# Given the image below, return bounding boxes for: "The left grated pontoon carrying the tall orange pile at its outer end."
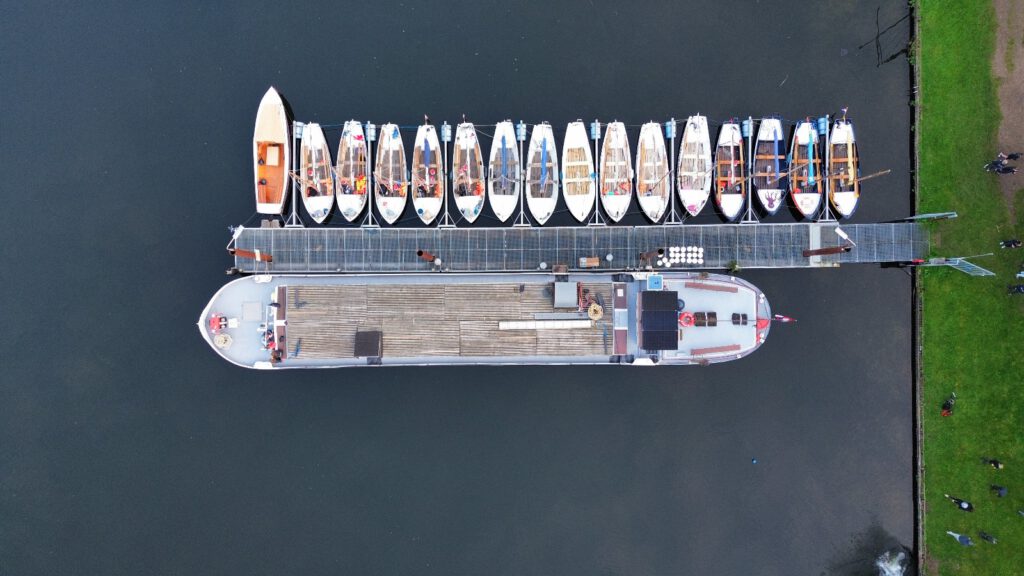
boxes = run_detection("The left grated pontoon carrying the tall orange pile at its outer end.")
[234,227,440,273]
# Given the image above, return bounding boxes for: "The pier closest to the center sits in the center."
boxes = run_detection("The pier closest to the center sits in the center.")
[440,226,633,272]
